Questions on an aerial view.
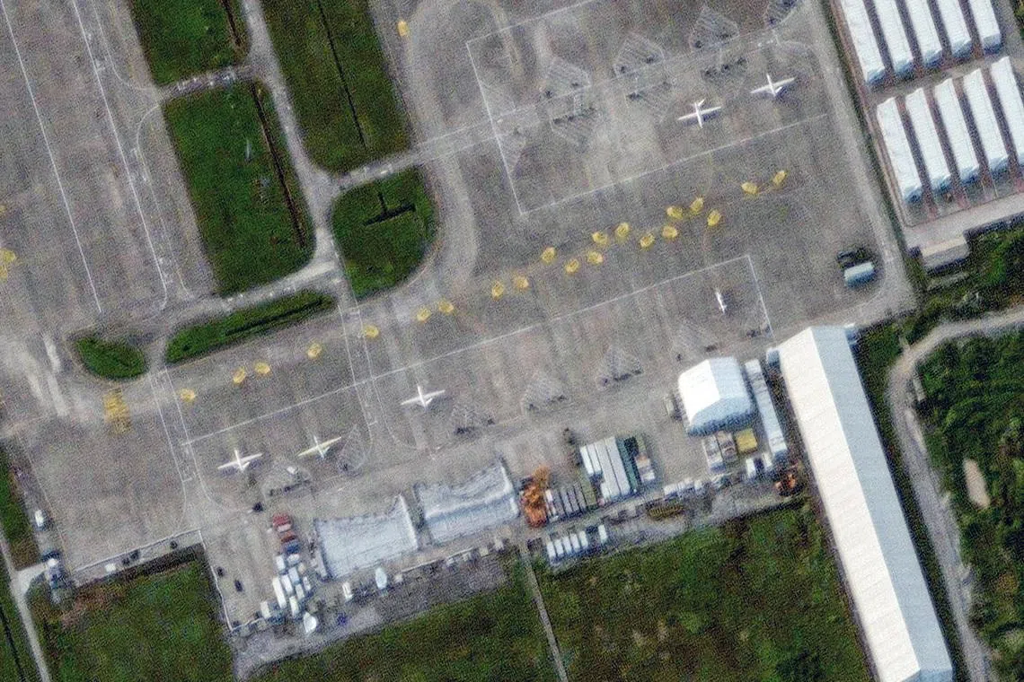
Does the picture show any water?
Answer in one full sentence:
No, there is no water in the image.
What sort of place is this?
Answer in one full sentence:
The picture captures an airport.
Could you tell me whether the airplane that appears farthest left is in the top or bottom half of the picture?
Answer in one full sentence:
You can find the airplane that appears farthest left in the bottom half.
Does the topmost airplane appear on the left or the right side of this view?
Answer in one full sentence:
The topmost airplane sits on the right side.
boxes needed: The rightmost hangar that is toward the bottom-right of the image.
[778,325,954,682]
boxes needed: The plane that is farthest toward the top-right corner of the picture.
[751,74,792,96]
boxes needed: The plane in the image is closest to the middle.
[401,385,443,407]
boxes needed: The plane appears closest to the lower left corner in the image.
[218,449,261,473]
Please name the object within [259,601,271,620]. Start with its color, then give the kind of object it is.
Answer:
white vehicle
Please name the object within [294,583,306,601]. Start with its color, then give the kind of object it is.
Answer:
white vehicle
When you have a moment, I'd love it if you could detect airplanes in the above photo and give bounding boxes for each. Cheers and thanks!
[299,436,341,460]
[751,74,792,96]
[218,449,261,473]
[716,290,728,313]
[401,385,443,407]
[677,102,720,127]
